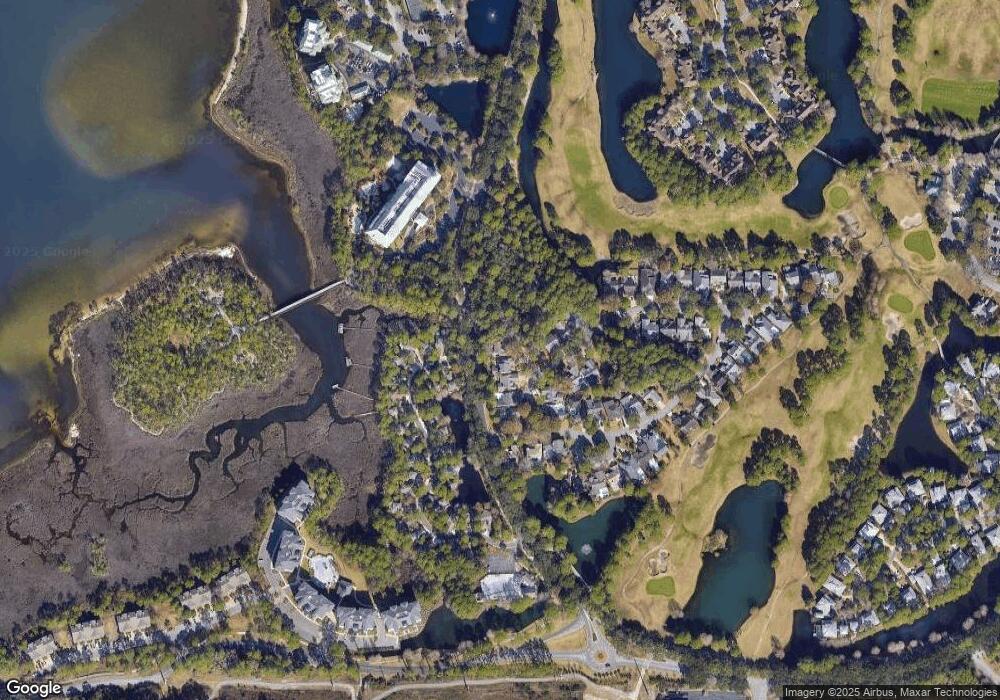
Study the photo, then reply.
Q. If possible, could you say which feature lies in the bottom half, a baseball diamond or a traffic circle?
traffic circle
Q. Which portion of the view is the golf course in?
right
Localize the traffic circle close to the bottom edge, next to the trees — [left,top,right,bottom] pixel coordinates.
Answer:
[550,608,644,674]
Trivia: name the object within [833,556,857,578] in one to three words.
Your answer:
house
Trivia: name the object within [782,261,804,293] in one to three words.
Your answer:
house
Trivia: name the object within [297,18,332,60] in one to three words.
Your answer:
building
